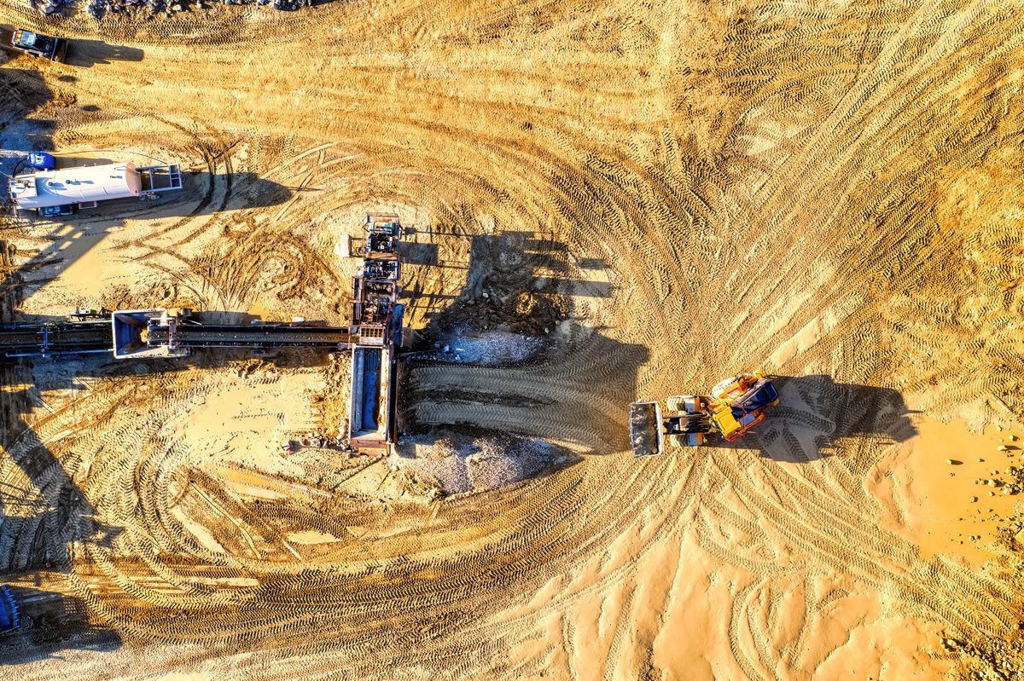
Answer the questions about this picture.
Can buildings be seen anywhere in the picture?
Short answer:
No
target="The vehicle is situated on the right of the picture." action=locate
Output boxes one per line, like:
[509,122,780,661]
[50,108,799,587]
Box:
[628,367,783,454]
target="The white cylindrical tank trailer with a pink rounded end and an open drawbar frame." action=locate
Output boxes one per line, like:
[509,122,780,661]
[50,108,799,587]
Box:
[0,163,183,213]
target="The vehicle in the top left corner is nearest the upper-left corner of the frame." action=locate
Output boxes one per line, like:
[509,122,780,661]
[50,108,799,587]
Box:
[10,21,71,63]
